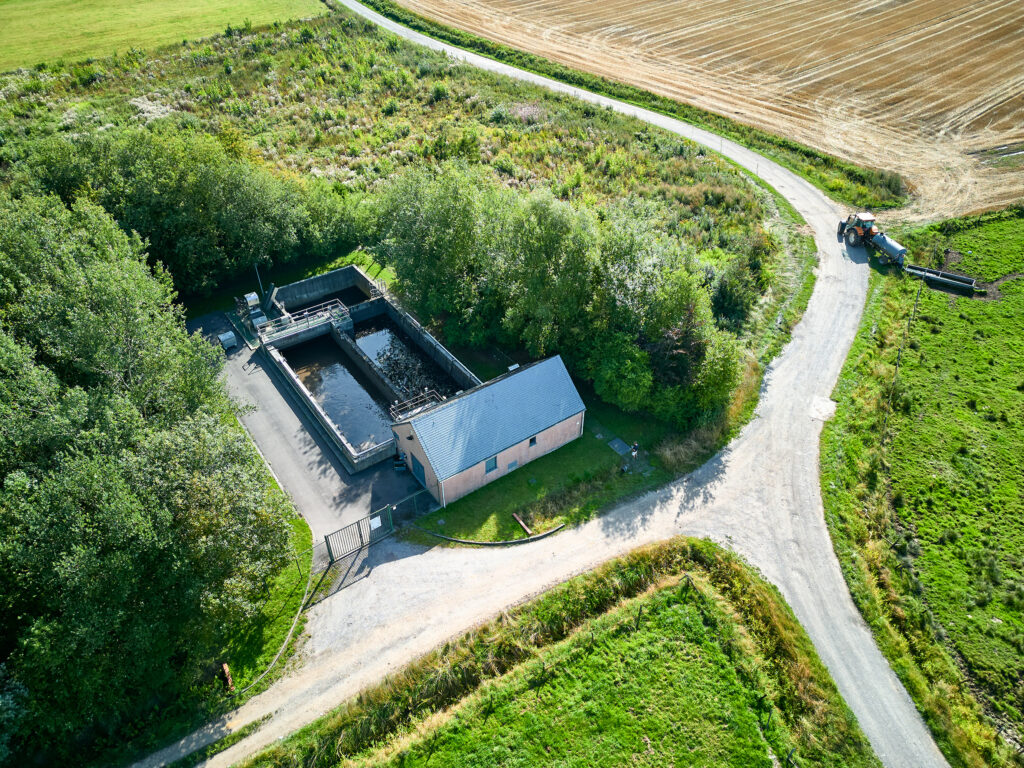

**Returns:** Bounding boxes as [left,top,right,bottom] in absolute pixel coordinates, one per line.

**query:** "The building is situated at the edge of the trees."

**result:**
[392,353,586,508]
